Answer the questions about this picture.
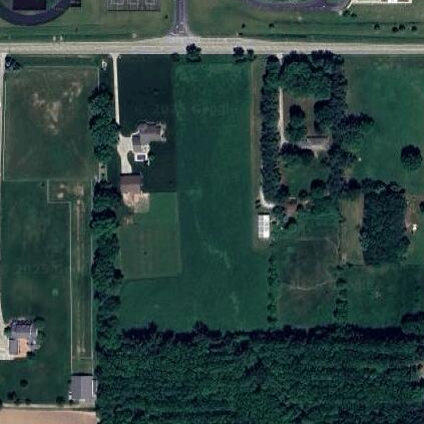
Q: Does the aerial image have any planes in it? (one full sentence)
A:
No, I find no plane anywhere in the image.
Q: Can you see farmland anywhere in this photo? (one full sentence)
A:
Yes, the picture does contain farmland.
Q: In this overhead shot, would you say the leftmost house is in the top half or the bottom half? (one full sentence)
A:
You can find the leftmost house in the bottom half.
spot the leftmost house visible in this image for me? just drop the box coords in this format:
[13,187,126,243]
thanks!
[9,319,37,354]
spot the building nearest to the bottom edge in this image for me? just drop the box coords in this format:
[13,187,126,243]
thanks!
[69,374,94,401]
